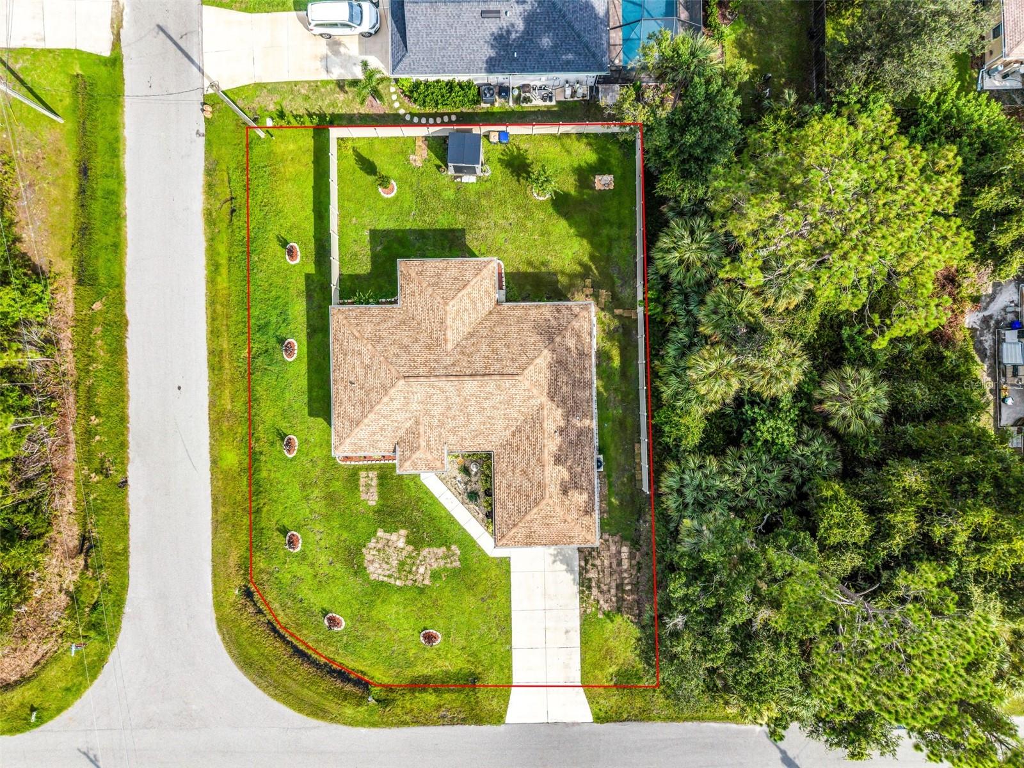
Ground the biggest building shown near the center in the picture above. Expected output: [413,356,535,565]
[331,259,597,547]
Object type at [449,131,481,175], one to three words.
shed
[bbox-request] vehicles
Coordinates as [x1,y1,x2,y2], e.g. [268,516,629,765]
[306,0,382,37]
